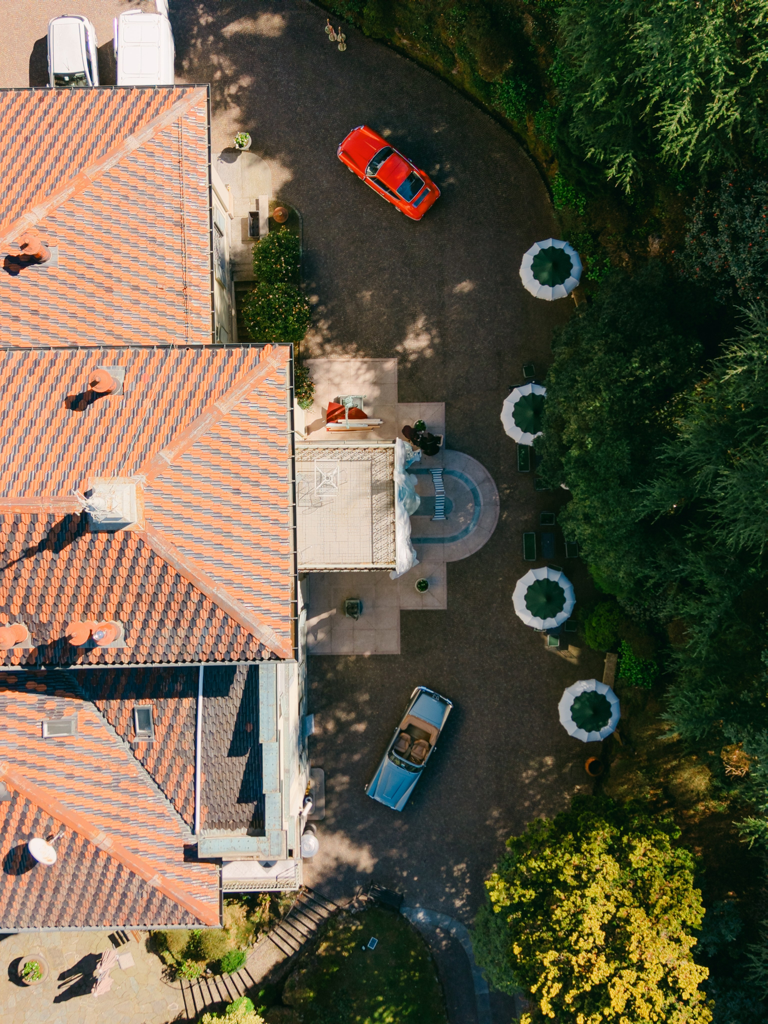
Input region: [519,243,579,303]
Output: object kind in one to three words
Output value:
umbrella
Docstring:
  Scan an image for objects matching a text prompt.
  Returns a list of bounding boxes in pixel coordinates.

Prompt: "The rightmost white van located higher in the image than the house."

[117,0,185,82]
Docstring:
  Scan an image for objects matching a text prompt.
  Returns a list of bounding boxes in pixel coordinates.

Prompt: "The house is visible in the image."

[0,79,399,934]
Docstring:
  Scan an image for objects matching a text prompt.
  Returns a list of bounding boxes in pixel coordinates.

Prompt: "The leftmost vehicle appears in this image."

[50,21,104,83]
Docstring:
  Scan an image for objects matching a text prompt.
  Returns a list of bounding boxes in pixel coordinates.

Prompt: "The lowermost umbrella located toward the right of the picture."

[556,678,616,737]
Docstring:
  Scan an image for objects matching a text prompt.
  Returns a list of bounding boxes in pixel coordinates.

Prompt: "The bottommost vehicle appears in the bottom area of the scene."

[368,691,454,815]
